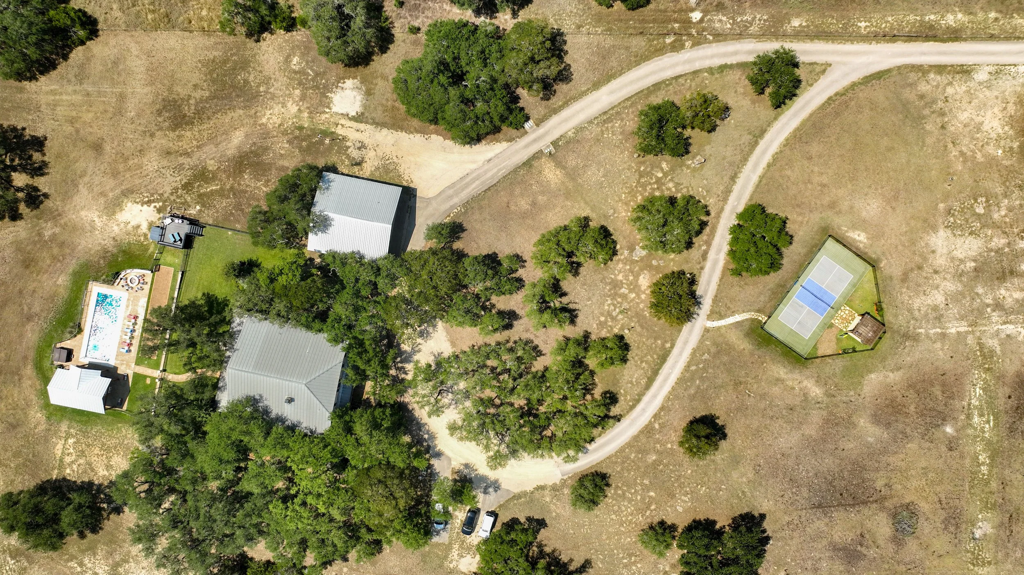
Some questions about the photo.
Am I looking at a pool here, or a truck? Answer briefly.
pool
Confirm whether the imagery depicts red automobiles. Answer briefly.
No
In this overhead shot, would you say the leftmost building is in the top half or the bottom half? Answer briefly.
bottom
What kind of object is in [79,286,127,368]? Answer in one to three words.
swimming pool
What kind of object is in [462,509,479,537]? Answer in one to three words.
car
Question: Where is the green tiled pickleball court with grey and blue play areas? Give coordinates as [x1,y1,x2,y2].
[764,238,870,357]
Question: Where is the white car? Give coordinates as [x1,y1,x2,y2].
[478,511,495,541]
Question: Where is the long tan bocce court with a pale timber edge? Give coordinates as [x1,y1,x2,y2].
[139,265,174,359]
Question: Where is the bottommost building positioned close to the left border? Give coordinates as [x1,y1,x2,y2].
[47,364,119,414]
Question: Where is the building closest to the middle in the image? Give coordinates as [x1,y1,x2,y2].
[307,172,404,265]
